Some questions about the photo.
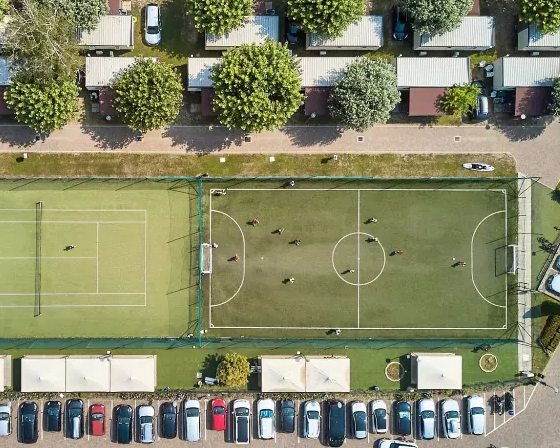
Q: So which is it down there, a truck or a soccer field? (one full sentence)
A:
Looking from above, you can make out a soccer field.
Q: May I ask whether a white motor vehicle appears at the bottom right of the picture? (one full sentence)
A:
Yes, a white motor vehicle appears at the bottom right of the picture.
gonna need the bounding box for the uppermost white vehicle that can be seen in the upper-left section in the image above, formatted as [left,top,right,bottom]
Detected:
[143,5,161,46]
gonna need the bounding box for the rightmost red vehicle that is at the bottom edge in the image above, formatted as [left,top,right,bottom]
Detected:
[210,397,228,430]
